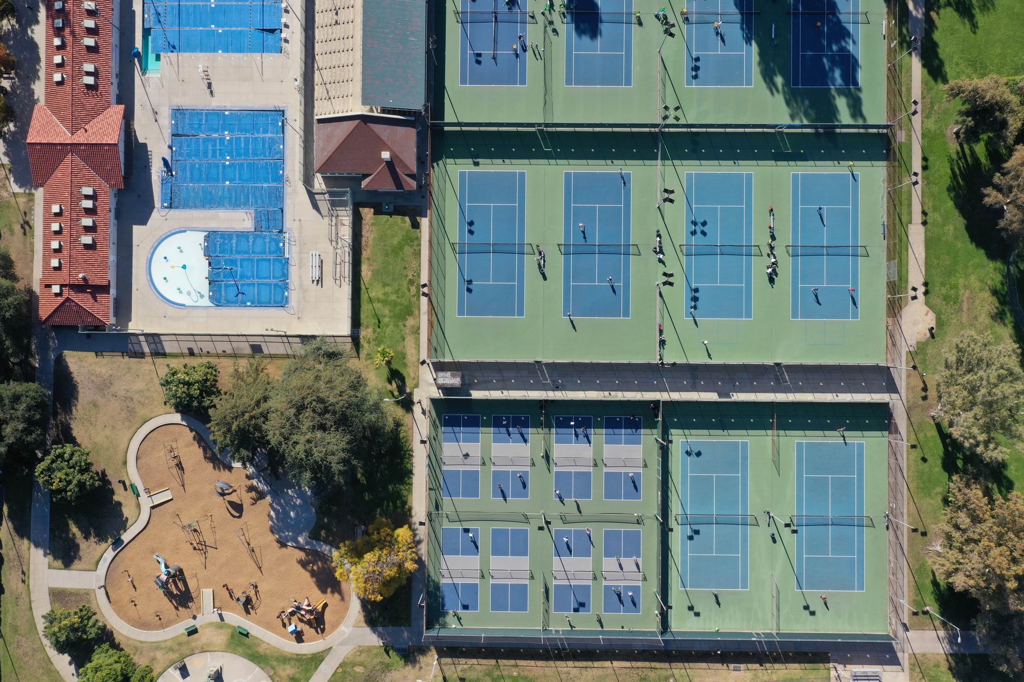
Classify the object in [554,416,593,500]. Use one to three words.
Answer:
sports court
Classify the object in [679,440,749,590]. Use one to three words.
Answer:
tennis court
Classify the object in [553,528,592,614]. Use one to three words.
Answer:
sports court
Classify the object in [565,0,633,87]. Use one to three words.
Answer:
tennis court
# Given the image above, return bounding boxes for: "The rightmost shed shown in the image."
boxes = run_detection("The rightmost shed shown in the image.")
[436,371,462,387]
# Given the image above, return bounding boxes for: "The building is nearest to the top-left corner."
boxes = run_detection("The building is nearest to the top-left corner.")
[26,0,130,326]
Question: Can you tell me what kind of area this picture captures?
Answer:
sports ground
